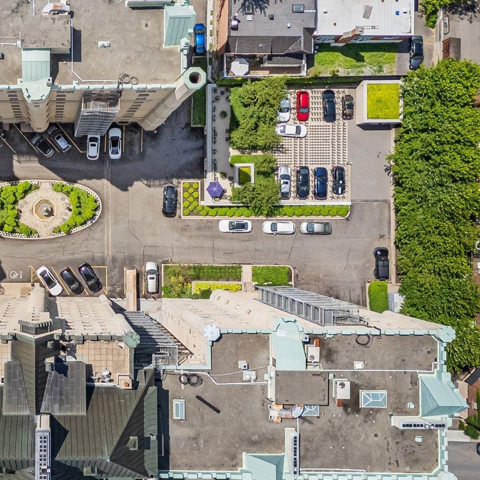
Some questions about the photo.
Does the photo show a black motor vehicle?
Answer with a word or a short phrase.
Yes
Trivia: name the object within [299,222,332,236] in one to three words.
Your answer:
car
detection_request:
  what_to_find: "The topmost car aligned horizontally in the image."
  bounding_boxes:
[274,122,307,138]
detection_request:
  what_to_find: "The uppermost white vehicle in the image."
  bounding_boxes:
[276,92,292,121]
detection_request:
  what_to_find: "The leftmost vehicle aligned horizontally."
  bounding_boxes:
[218,219,251,234]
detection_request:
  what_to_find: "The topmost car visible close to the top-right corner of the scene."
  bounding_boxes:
[407,38,425,71]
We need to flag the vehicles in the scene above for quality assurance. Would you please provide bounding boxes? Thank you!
[162,186,178,218]
[407,38,425,71]
[144,261,159,294]
[261,221,295,235]
[294,91,311,122]
[299,222,332,236]
[76,262,102,294]
[373,248,389,280]
[35,264,64,298]
[321,91,336,122]
[276,167,292,199]
[295,167,311,199]
[29,131,55,161]
[341,95,354,120]
[276,92,292,121]
[86,133,101,162]
[313,167,329,199]
[107,127,122,160]
[46,121,72,153]
[331,166,345,195]
[274,122,307,138]
[218,219,251,234]
[58,266,84,298]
